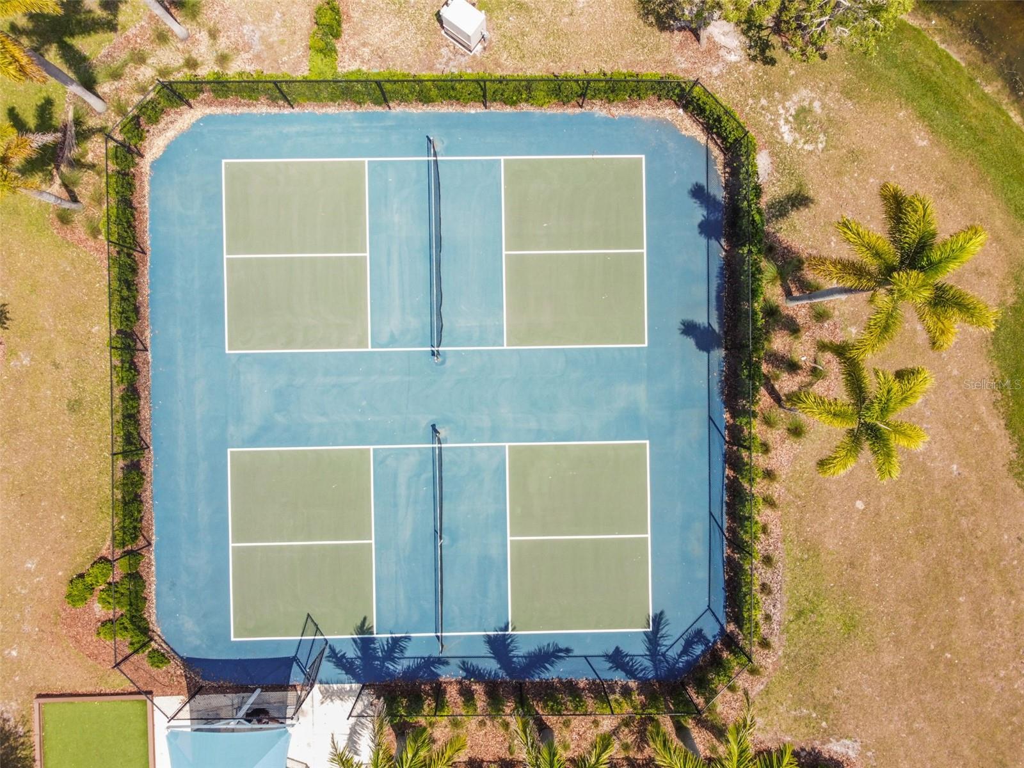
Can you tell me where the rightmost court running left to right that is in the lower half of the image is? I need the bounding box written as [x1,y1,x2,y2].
[227,441,652,641]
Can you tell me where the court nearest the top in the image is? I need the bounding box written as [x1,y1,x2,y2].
[222,155,648,353]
